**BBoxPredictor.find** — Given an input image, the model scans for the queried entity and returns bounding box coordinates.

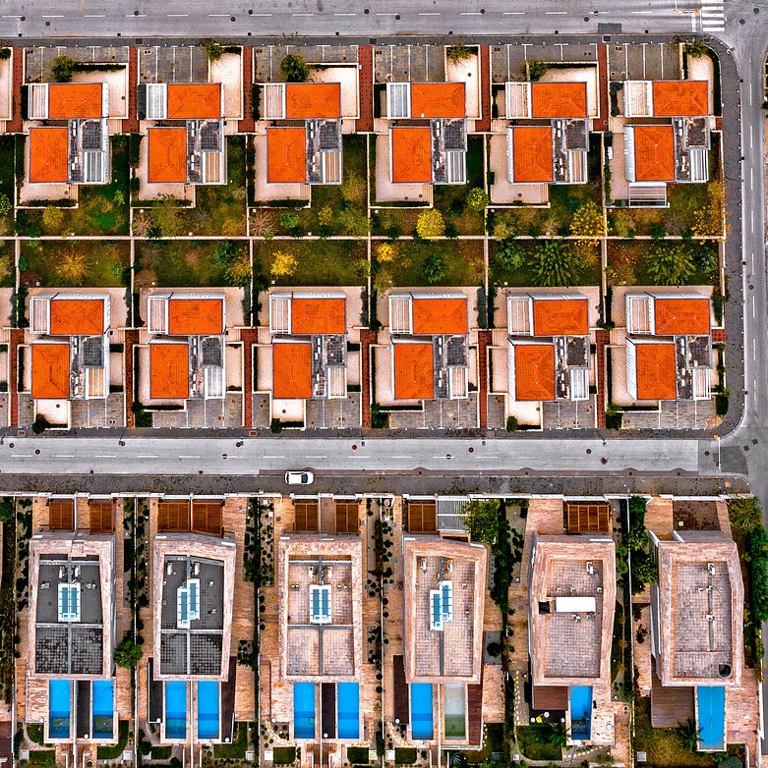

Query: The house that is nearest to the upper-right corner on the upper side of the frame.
[607,81,709,203]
